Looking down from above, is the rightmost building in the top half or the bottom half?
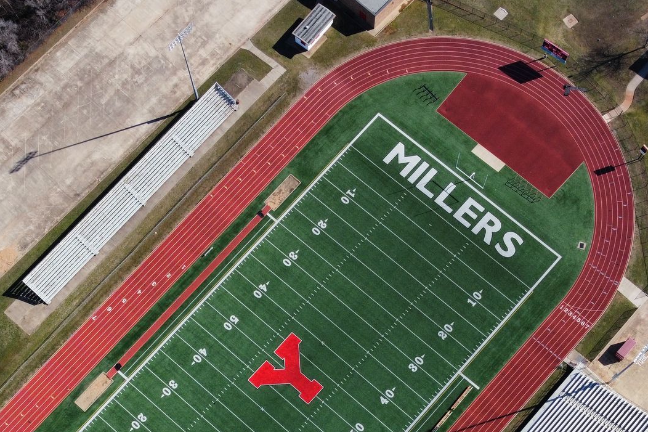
top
